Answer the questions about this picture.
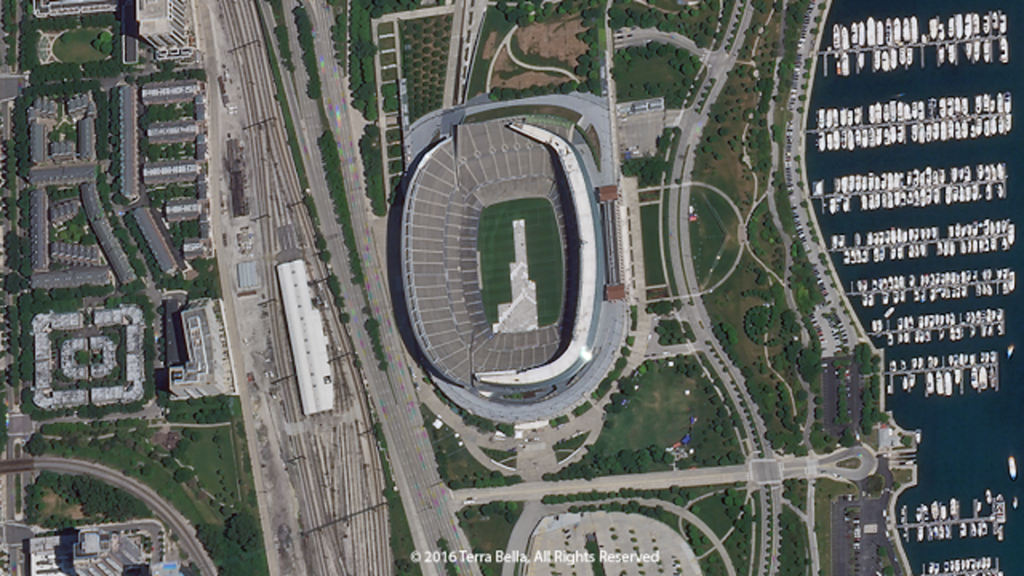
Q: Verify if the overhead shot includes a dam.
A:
No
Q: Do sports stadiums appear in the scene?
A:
Yes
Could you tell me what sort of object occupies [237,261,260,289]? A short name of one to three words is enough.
shed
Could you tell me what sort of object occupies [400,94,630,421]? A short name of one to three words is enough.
stadium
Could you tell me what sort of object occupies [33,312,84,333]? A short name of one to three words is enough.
building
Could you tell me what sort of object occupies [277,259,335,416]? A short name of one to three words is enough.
shed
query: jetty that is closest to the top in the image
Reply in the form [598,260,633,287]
[818,20,1007,77]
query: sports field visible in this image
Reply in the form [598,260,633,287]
[477,197,565,333]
